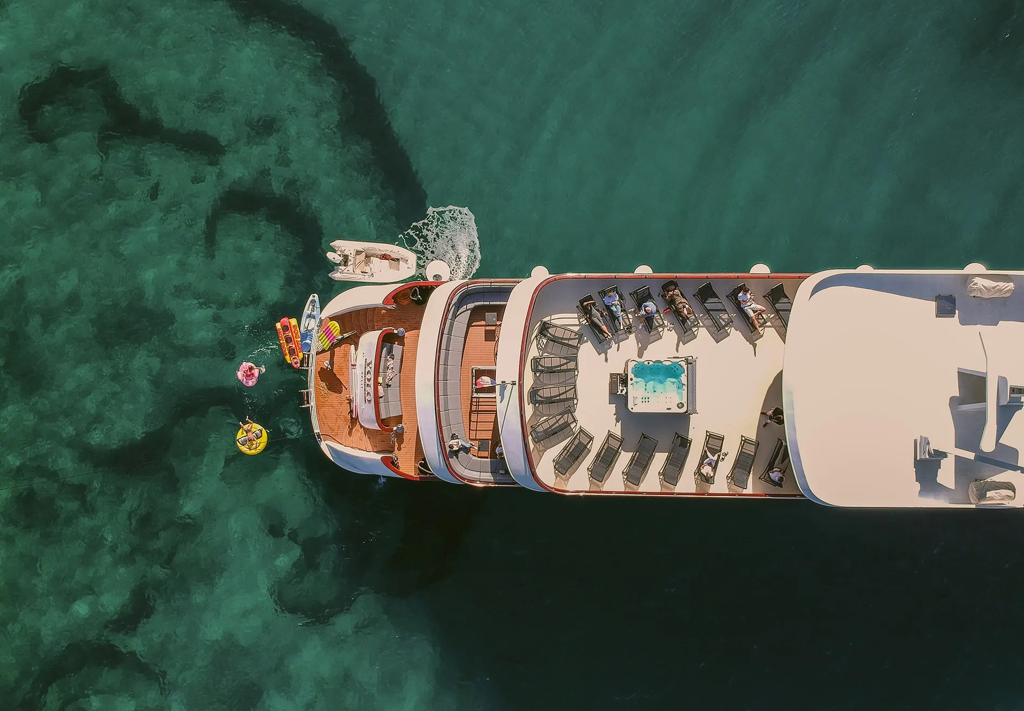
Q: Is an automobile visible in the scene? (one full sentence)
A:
No, there is no automobile in the image.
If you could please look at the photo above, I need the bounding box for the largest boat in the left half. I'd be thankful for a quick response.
[327,240,417,282]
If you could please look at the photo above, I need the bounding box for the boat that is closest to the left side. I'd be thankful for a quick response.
[299,294,319,352]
